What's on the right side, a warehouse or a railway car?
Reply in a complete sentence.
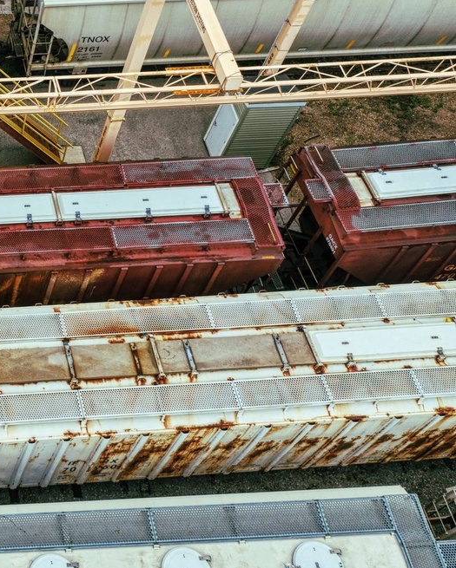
You can see a railway car on the right side.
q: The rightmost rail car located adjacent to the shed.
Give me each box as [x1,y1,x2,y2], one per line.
[270,129,456,286]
